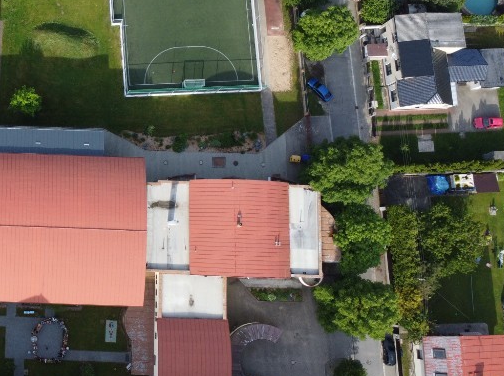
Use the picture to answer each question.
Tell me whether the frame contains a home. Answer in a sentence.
Yes, the frame does contain a home.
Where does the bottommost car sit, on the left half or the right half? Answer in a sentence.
You can find the bottommost car on the right side of the picture.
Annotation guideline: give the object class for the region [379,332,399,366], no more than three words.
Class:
car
